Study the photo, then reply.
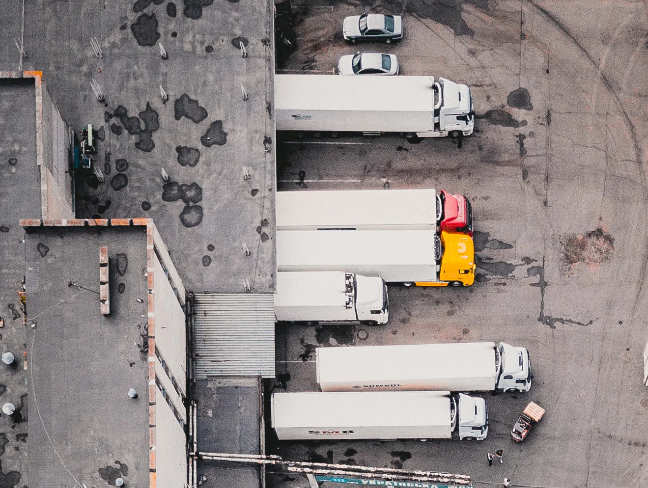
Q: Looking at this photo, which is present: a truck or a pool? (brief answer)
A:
truck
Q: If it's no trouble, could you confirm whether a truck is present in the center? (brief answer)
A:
Yes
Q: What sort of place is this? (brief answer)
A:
industrial area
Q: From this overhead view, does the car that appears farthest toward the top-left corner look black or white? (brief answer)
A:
black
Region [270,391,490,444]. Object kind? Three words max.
truck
